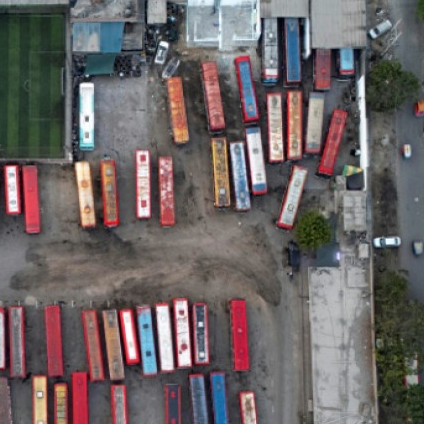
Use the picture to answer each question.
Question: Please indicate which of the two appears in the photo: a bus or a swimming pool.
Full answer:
The image shows a bus.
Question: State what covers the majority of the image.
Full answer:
What you mostly see from above here is paved ground.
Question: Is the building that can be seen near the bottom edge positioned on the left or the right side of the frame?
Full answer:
The building that can be seen near the bottom edge sits on the right side.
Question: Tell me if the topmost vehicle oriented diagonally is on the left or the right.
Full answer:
You can find the topmost vehicle oriented diagonally on the right side of the picture.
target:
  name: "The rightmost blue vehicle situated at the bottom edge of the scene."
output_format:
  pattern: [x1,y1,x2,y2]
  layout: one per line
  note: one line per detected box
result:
[208,372,228,424]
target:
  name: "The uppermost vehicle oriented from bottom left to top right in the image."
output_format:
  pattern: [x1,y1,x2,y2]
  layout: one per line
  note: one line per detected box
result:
[366,19,392,41]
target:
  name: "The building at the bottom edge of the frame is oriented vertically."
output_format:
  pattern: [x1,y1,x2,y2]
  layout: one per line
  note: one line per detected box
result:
[303,267,377,424]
